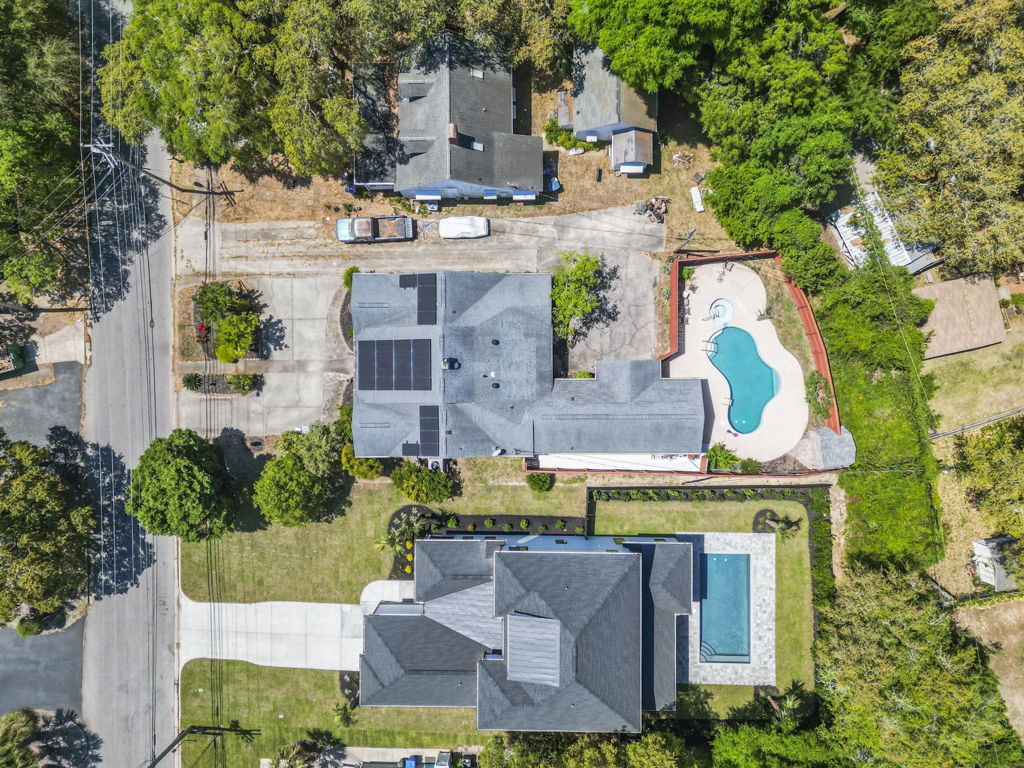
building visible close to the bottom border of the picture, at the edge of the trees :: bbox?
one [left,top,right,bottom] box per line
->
[359,536,694,734]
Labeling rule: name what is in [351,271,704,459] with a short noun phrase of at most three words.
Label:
house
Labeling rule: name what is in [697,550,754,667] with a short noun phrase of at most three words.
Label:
swimming pool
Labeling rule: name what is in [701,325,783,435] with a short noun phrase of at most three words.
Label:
swimming pool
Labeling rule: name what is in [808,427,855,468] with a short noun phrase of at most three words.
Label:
shed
